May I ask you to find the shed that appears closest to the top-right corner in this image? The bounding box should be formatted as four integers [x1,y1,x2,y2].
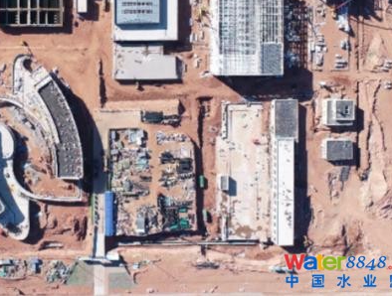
[322,101,355,124]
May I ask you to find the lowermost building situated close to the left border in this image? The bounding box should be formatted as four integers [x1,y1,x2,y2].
[0,56,84,240]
